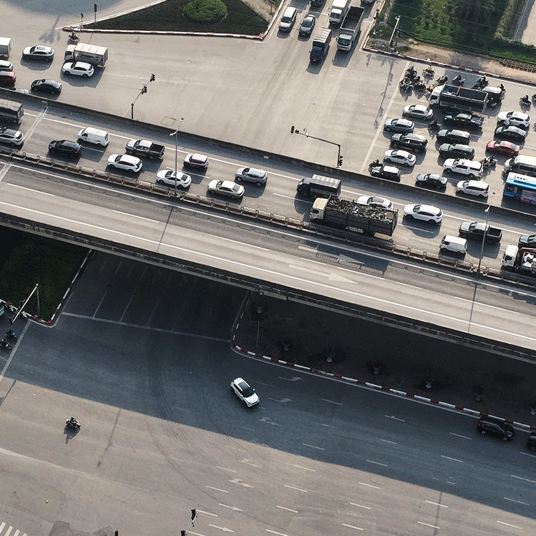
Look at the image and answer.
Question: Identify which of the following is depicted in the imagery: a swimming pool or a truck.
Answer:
truck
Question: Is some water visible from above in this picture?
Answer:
No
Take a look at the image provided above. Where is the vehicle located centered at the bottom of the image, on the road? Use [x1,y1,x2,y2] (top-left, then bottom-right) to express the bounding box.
[231,378,258,407]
